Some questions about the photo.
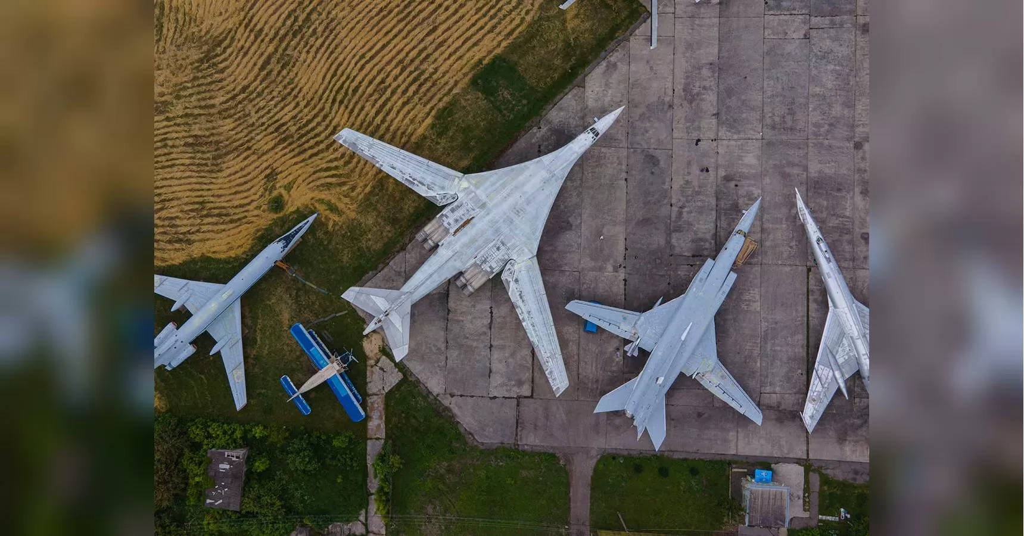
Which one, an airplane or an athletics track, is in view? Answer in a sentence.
The one in the frame is an airplane.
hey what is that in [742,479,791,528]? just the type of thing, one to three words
shed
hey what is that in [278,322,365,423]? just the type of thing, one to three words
airplane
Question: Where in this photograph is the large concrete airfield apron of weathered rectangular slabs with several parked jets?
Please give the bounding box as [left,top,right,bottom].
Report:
[355,0,1024,494]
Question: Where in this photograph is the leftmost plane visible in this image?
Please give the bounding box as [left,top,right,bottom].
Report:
[61,214,317,431]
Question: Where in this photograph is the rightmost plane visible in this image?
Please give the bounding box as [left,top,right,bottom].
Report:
[797,190,952,447]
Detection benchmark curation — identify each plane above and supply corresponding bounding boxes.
[330,107,624,395]
[565,194,765,451]
[797,190,952,447]
[61,214,317,431]
[278,322,365,423]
